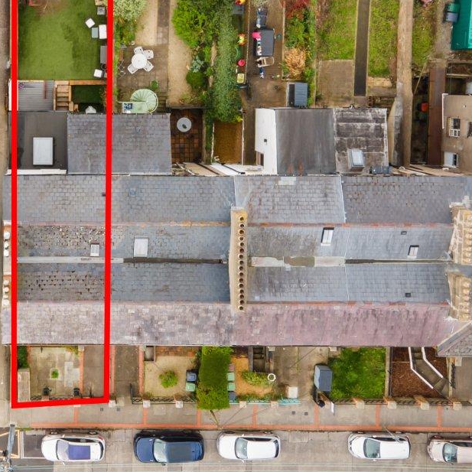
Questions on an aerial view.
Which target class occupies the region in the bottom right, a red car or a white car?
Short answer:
white car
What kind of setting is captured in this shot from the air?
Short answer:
residential area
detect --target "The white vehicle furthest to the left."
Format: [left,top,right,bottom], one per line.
[43,431,106,466]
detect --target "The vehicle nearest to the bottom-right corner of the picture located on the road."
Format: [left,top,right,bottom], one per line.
[425,433,472,467]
